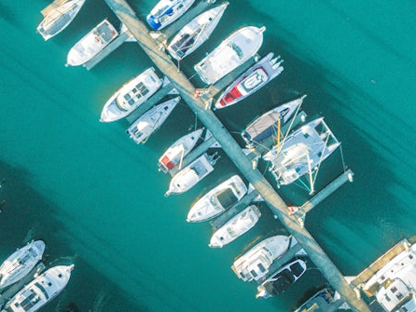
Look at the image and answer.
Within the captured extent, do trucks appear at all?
No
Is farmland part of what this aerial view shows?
No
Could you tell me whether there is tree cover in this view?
No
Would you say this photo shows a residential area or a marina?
marina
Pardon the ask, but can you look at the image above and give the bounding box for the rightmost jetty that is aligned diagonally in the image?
[345,236,408,291]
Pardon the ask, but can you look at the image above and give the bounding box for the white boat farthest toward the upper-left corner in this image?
[37,0,90,39]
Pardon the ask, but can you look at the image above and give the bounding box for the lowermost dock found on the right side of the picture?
[323,283,358,312]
